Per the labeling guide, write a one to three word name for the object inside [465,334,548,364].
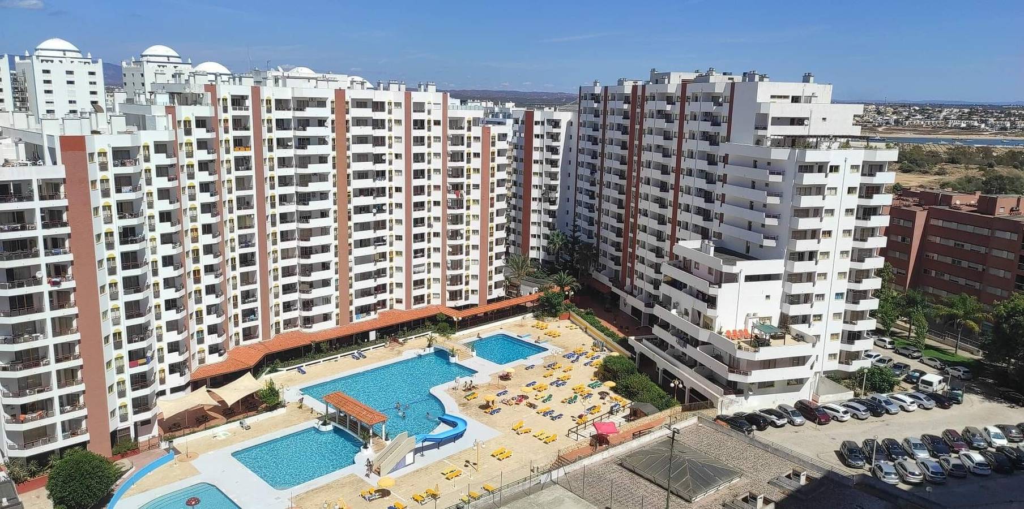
swimming pool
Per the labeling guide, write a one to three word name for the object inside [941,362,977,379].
car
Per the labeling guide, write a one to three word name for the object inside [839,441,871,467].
car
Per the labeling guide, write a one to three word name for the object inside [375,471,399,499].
umbrella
